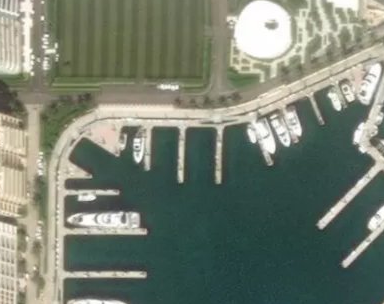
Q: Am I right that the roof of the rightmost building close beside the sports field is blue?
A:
No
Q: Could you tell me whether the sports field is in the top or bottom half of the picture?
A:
top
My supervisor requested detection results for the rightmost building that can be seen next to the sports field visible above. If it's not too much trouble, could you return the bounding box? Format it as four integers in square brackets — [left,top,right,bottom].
[236,0,292,58]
